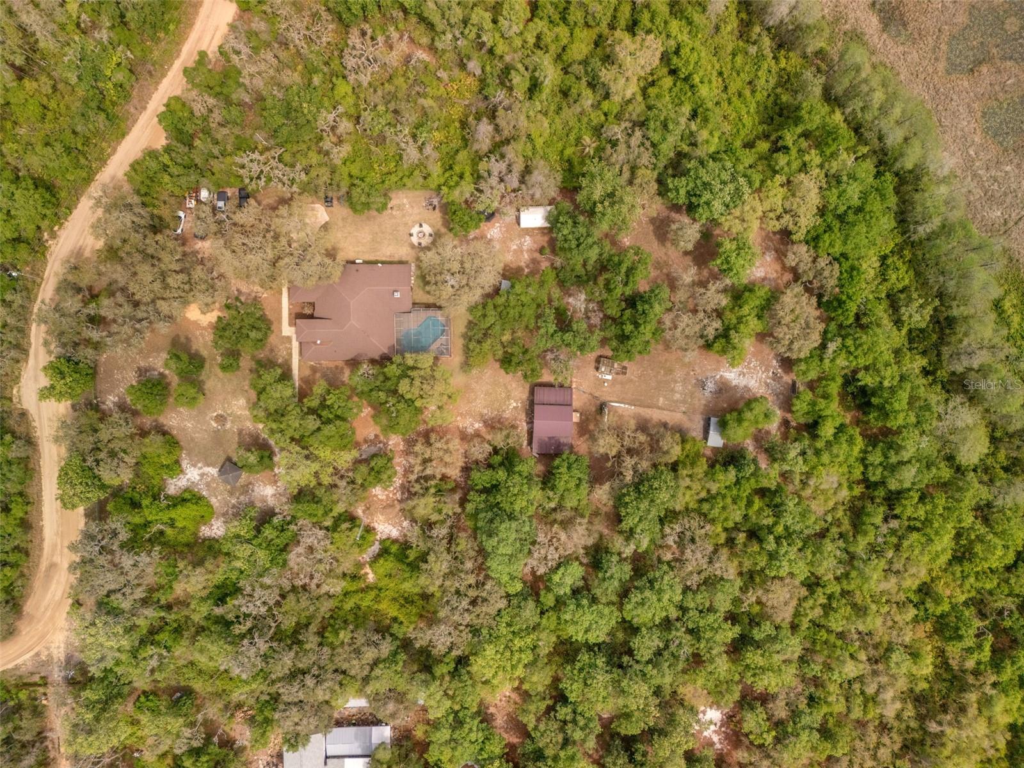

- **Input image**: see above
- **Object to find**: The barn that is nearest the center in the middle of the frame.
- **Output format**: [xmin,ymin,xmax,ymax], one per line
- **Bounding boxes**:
[533,387,573,457]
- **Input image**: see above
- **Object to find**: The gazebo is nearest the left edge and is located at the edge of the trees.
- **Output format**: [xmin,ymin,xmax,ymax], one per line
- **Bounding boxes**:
[218,461,244,485]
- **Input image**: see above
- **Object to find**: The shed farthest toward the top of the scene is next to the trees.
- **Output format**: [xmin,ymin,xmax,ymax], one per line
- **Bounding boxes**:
[520,206,552,230]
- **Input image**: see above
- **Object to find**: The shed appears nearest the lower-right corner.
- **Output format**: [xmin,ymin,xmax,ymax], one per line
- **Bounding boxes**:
[706,417,722,447]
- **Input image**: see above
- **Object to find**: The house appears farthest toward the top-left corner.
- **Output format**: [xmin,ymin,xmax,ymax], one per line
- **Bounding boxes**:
[289,263,411,360]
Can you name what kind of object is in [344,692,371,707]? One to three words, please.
shed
